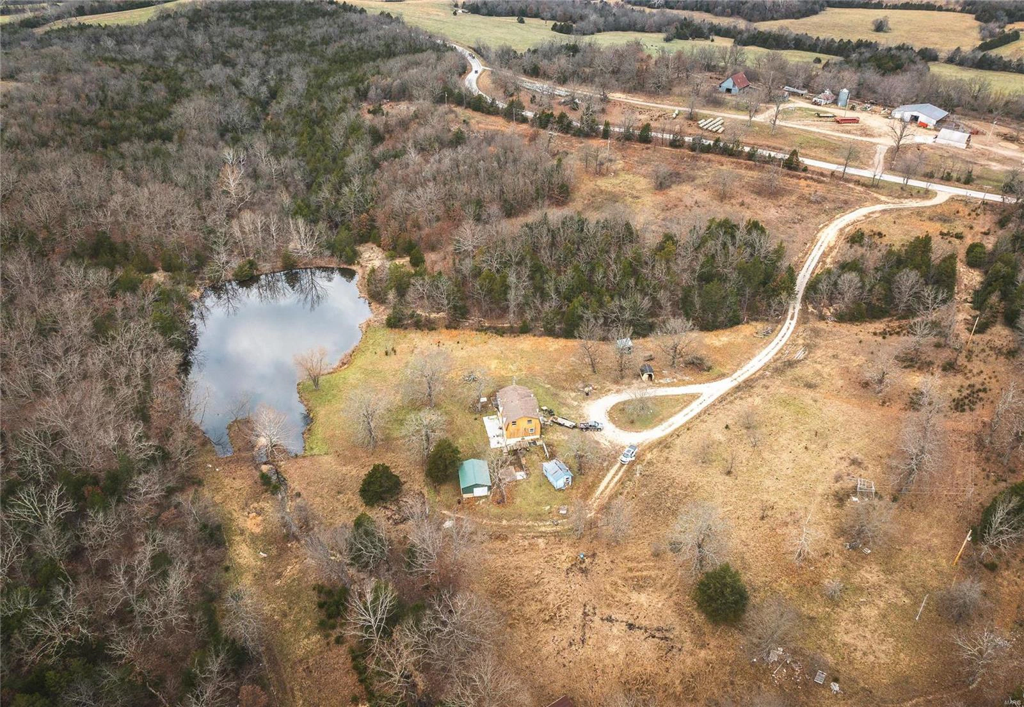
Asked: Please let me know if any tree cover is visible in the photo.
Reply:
Yes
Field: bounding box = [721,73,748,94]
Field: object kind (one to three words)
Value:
barn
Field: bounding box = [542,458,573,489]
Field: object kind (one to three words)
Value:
shed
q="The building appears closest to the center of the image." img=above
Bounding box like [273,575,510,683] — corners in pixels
[489,382,543,453]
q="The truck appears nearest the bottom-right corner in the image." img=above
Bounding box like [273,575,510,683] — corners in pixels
[617,442,640,464]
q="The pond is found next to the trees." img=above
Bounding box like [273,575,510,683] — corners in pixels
[184,267,371,465]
